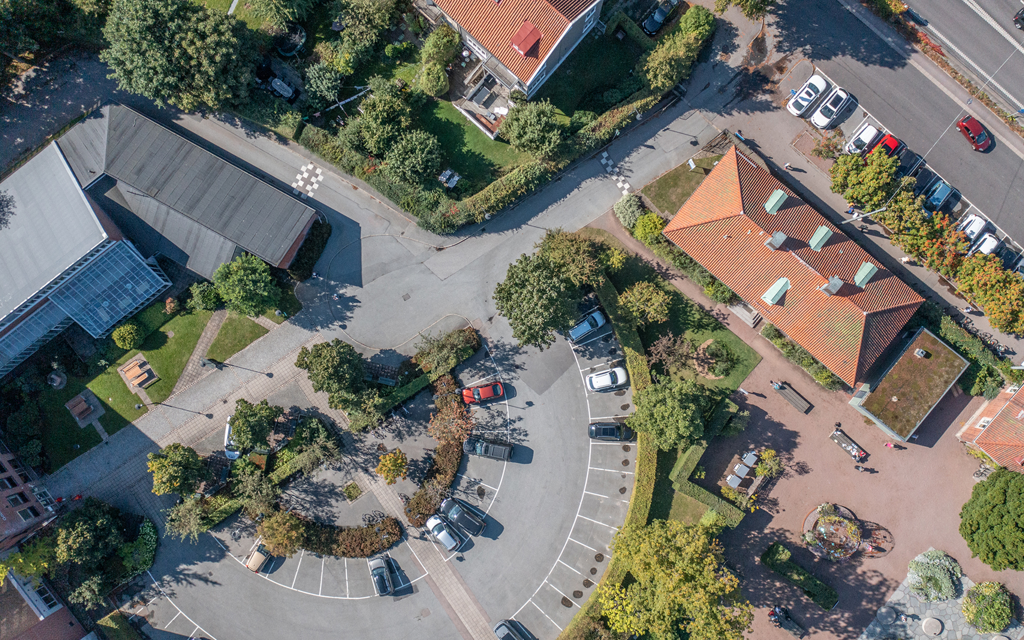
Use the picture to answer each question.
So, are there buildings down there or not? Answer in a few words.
Yes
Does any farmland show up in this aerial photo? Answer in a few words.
No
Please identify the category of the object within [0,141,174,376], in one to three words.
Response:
building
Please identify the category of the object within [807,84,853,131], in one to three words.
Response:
car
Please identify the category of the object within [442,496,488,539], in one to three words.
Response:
car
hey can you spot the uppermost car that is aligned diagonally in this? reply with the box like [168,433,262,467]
[642,0,680,36]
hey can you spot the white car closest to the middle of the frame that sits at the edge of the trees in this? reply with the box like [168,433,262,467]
[585,367,629,390]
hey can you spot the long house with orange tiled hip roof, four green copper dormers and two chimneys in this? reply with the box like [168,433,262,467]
[663,145,925,388]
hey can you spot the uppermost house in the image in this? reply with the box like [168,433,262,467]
[413,0,608,96]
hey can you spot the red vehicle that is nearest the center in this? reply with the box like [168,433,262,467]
[462,381,505,403]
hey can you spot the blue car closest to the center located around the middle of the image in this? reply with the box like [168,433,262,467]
[564,310,608,344]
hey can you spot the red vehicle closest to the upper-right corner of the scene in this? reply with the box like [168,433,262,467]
[953,111,990,155]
